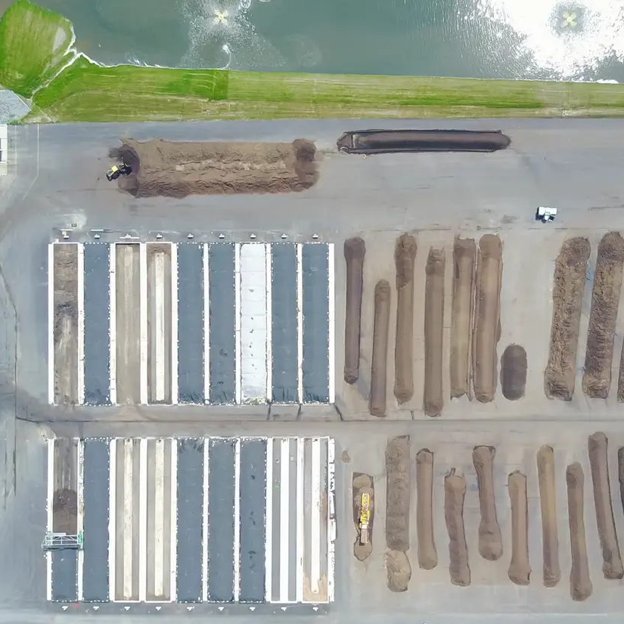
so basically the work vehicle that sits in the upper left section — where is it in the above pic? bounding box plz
[104,162,126,178]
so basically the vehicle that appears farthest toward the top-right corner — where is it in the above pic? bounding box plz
[538,207,559,220]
